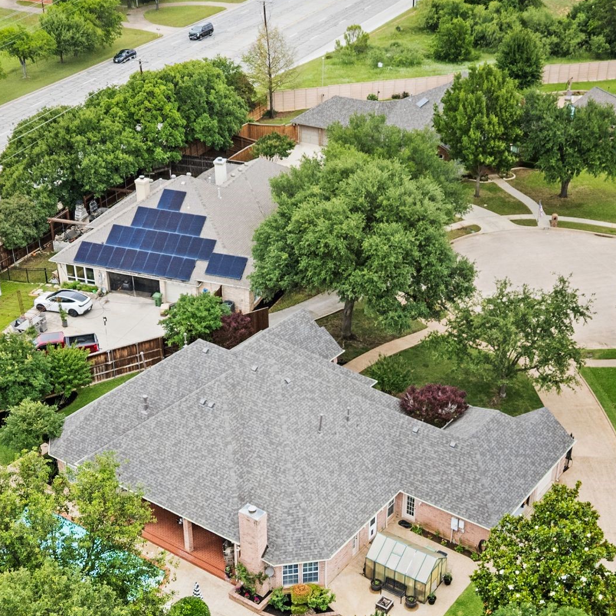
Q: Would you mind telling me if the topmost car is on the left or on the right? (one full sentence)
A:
The topmost car sits on the left side.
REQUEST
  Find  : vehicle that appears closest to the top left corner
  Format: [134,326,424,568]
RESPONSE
[109,47,137,63]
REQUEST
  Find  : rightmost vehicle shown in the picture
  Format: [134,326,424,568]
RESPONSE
[186,19,215,39]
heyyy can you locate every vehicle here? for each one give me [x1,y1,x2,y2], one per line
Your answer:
[186,19,215,39]
[33,287,93,316]
[109,47,137,63]
[35,330,106,363]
